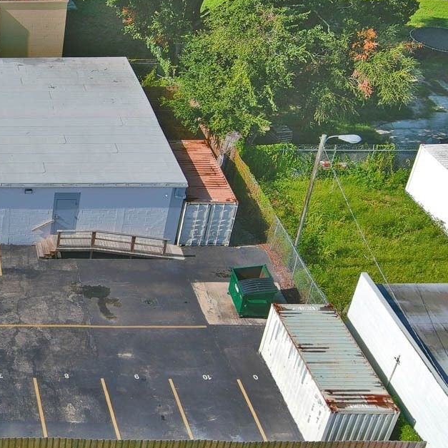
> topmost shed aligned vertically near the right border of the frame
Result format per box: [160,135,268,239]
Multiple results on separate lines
[407,147,448,238]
